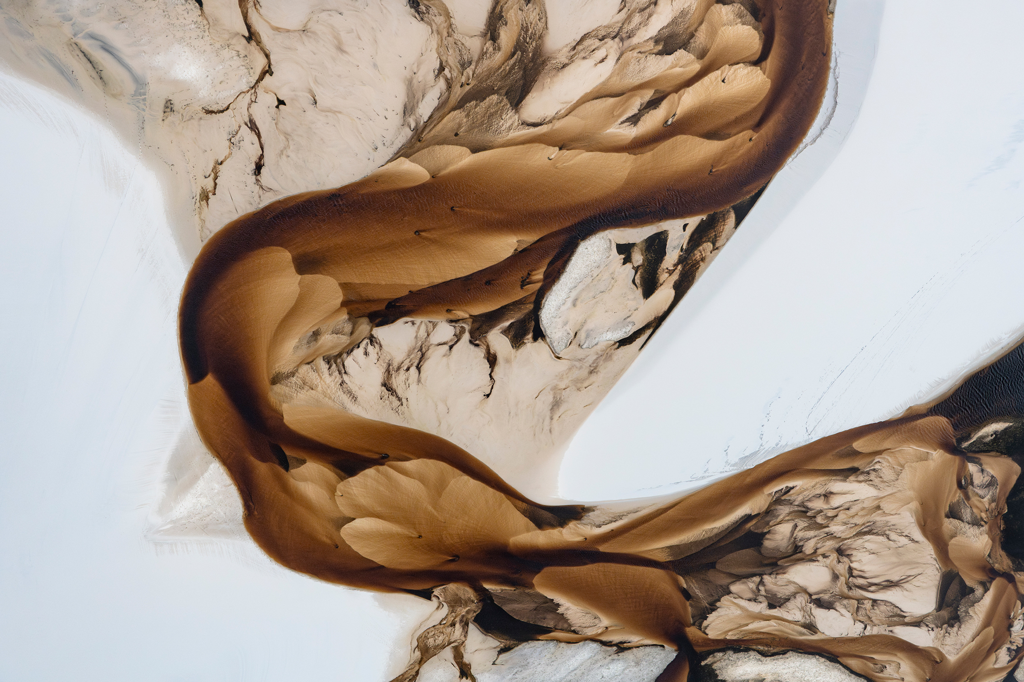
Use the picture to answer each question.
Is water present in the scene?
Yes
